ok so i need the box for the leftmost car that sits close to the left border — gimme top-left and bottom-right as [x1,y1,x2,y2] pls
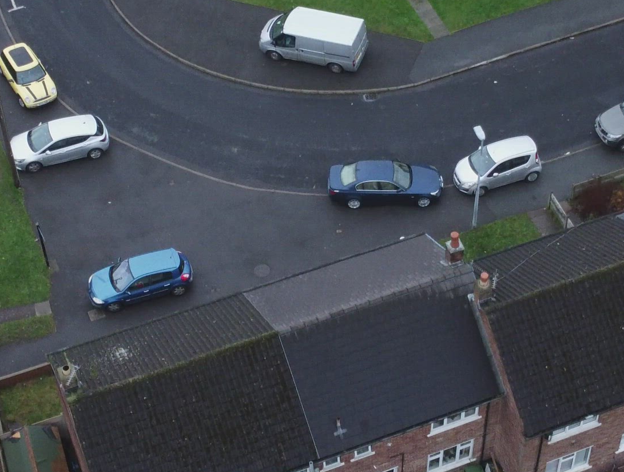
[0,39,59,112]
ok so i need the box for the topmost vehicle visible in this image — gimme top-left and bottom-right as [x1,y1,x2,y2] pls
[258,6,371,74]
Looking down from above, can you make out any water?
No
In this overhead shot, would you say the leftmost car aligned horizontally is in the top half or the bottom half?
top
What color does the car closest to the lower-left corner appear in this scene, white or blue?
blue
